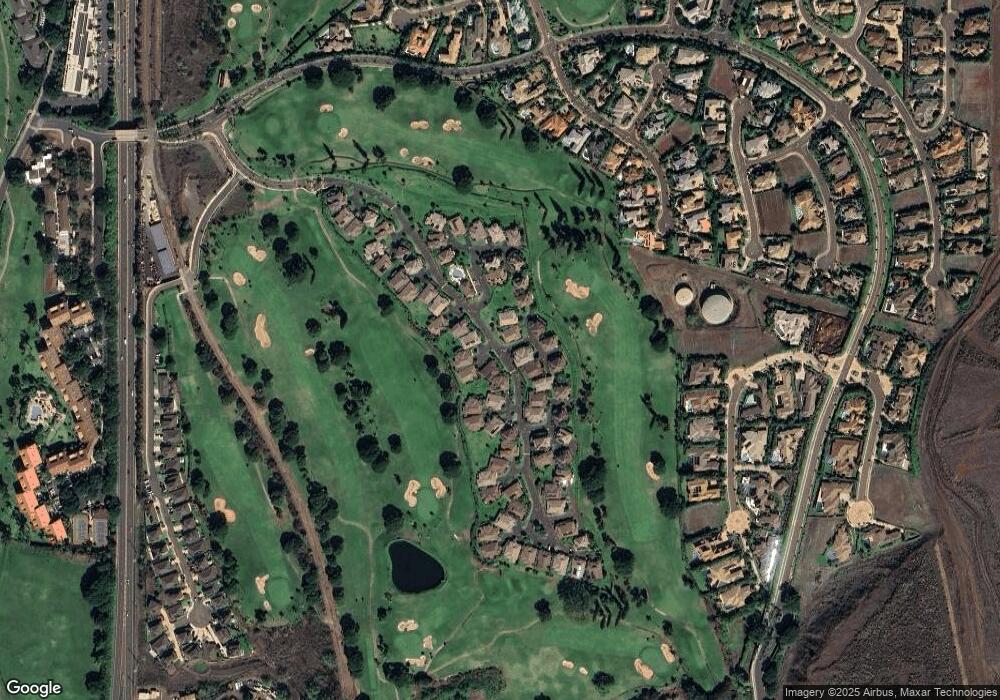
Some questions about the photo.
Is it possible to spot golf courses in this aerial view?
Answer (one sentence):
Yes, I can see a golf course in this picture.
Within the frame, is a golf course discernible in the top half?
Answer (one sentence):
Yes, a golf course appears in the top half.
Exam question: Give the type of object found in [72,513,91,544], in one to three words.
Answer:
tennis court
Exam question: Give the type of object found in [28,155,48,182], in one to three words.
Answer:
building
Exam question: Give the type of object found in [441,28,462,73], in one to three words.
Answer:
house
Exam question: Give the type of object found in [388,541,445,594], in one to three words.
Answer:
pond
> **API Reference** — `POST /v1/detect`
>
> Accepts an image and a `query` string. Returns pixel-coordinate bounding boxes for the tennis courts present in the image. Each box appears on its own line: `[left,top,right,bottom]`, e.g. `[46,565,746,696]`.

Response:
[72,513,91,544]
[91,515,108,544]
